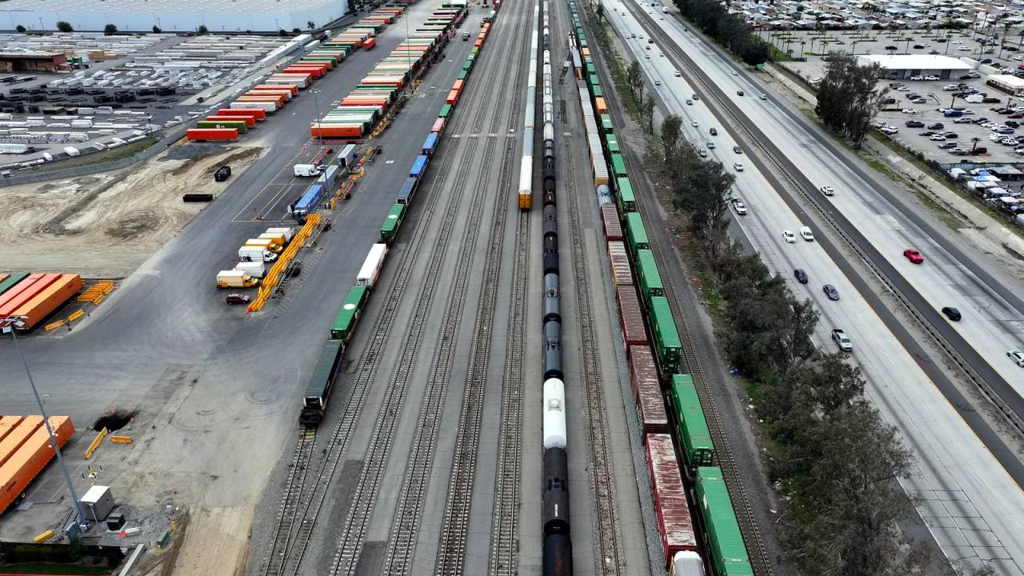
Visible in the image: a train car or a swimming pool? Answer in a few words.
train car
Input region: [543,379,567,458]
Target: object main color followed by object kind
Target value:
white rail car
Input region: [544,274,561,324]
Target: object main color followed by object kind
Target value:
gray rail car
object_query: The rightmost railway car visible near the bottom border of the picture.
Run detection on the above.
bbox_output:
[643,434,697,572]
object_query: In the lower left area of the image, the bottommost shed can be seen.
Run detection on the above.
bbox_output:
[78,485,115,519]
